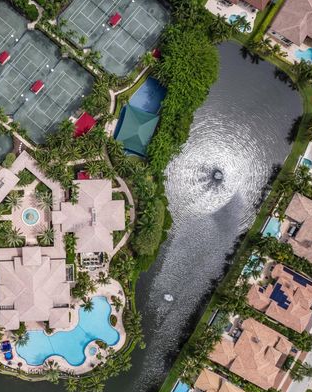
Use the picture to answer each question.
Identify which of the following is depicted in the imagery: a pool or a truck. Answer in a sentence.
It is a pool that can be seen here.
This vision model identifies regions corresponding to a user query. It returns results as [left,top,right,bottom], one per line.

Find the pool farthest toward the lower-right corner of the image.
[208,310,232,332]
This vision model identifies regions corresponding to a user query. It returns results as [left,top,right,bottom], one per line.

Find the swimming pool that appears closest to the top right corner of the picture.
[296,48,312,62]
